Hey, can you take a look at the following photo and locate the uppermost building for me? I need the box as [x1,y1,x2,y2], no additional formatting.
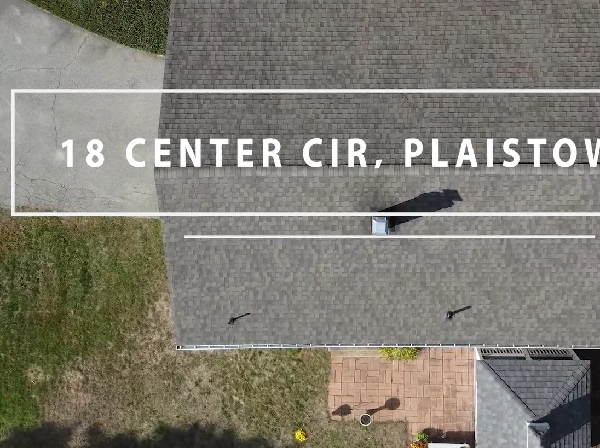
[154,0,600,350]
